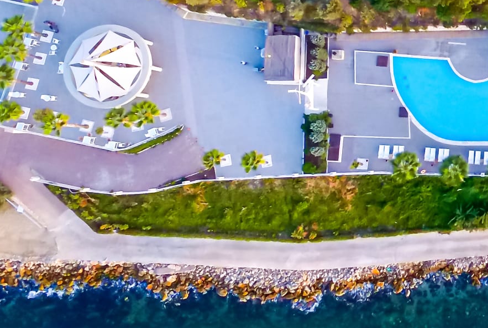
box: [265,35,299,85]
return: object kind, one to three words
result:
shed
